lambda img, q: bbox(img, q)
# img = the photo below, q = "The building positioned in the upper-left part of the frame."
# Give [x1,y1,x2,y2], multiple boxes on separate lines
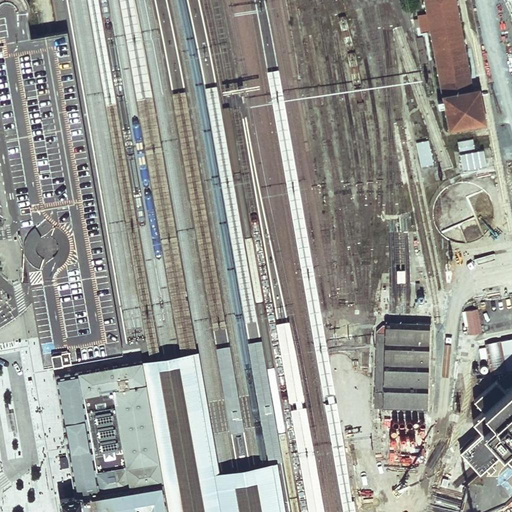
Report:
[28,19,68,40]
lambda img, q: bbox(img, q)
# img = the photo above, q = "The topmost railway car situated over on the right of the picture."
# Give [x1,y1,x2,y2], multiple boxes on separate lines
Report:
[340,14,354,48]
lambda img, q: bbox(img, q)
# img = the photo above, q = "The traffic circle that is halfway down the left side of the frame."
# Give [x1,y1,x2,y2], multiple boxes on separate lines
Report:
[24,224,70,270]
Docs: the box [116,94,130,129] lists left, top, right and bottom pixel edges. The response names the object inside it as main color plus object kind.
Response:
gray rail car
